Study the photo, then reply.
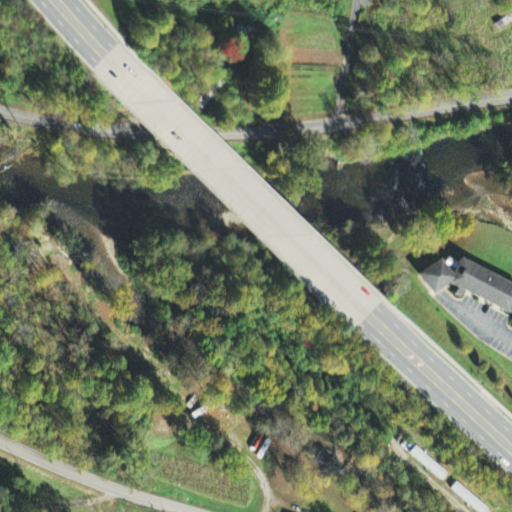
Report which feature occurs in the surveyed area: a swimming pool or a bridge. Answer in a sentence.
There is a bridge in the scene.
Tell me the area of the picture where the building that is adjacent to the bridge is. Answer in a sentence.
The building that is adjacent to the bridge sits in the right section of the image.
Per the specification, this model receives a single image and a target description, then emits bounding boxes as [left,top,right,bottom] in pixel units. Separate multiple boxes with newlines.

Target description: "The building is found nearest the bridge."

[420,258,512,312]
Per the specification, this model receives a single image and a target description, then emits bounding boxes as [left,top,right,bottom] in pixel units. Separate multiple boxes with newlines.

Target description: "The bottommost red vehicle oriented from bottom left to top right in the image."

[250,434,264,452]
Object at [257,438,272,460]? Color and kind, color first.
white vehicle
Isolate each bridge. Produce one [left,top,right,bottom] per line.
[87,38,388,337]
